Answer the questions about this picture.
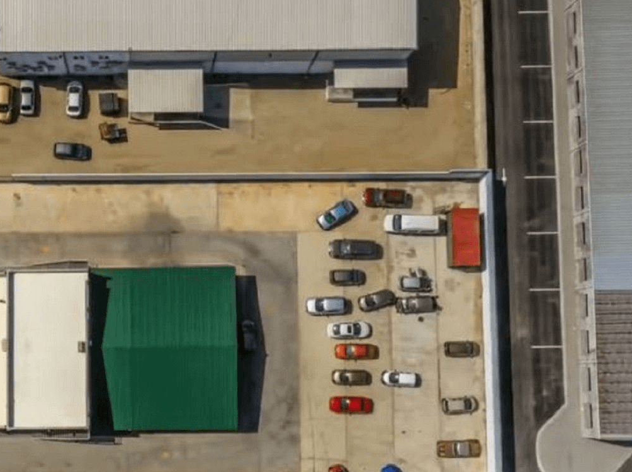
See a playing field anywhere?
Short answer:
No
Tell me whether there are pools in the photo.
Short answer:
No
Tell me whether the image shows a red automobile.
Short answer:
Yes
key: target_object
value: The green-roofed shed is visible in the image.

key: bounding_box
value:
[93,267,237,431]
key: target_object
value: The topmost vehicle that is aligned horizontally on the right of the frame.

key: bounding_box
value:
[363,188,408,208]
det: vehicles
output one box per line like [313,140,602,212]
[382,463,402,472]
[396,295,438,315]
[399,275,431,293]
[383,212,443,236]
[65,81,83,119]
[363,188,408,208]
[326,320,371,340]
[328,268,366,287]
[328,238,379,260]
[332,368,370,387]
[443,340,478,359]
[357,288,396,312]
[0,81,14,124]
[305,295,347,315]
[99,119,125,142]
[18,81,35,117]
[334,341,376,361]
[53,142,91,162]
[435,439,481,459]
[441,395,477,415]
[380,369,418,388]
[317,198,357,231]
[328,395,372,415]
